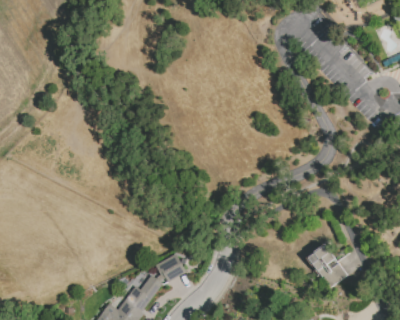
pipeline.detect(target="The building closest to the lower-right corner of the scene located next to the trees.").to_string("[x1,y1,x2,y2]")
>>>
[309,246,364,288]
